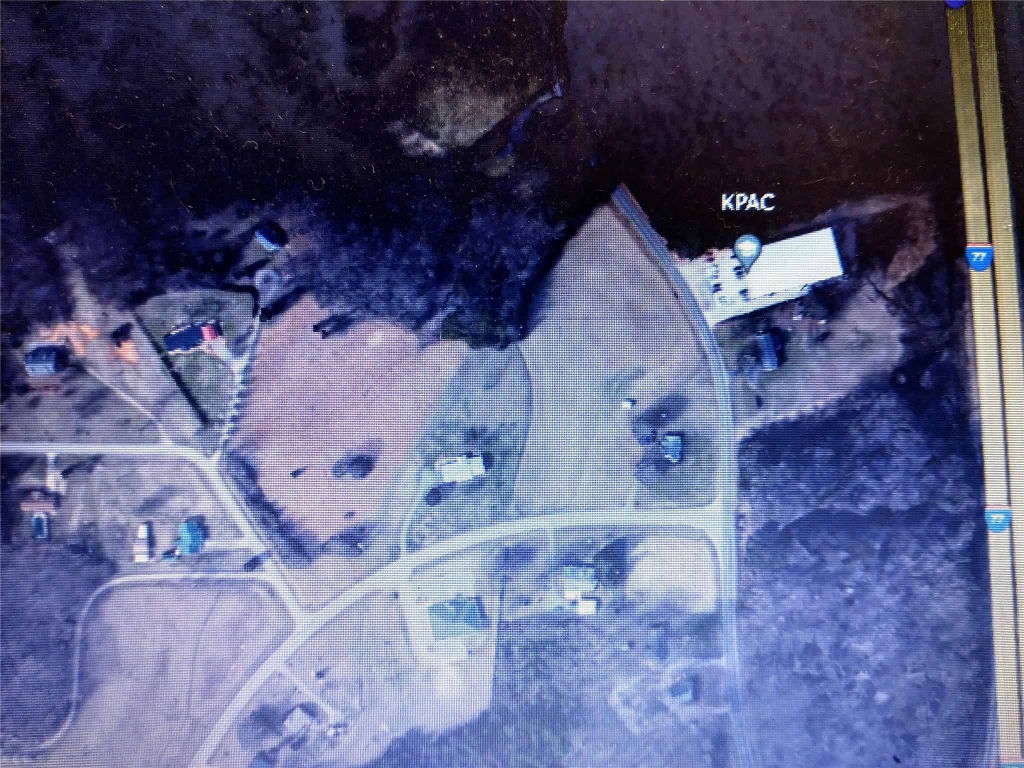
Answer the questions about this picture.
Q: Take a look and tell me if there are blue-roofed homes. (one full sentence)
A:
Yes, a blue-roofed home appears in the view.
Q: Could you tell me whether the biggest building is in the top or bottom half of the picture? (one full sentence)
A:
You can find the biggest building in the top half.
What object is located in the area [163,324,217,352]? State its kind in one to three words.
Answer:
house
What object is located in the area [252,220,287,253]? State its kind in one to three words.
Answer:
house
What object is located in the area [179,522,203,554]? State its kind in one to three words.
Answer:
barn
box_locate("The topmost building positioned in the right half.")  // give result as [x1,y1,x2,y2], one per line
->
[745,228,844,297]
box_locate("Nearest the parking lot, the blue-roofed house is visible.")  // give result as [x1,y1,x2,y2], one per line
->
[758,332,785,371]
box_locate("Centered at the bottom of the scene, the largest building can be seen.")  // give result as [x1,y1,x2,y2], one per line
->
[428,598,486,641]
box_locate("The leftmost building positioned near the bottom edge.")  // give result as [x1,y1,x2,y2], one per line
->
[284,707,312,735]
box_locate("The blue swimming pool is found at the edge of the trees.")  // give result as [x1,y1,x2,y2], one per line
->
[33,513,48,539]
